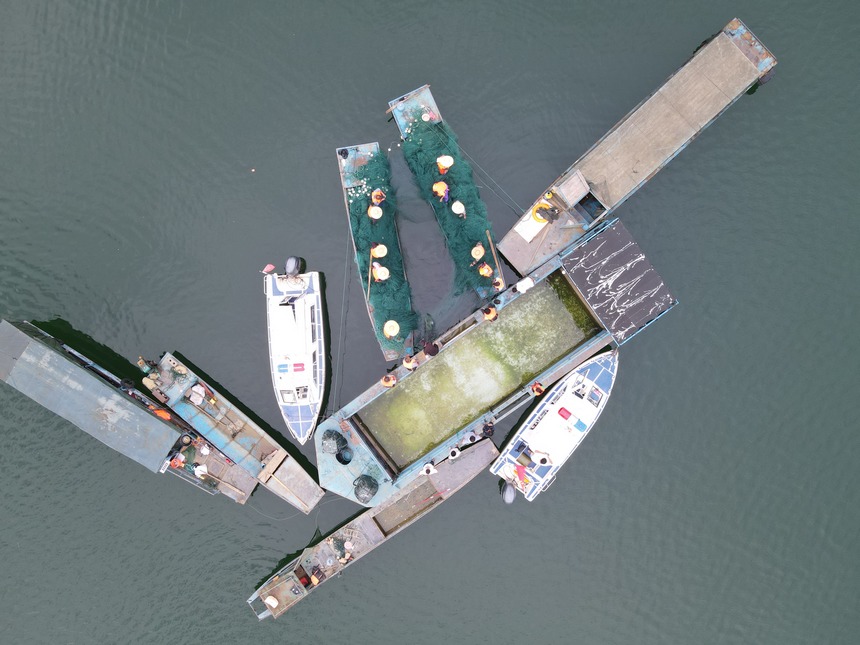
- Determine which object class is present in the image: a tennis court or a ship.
ship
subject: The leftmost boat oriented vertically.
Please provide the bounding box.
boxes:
[265,255,327,446]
